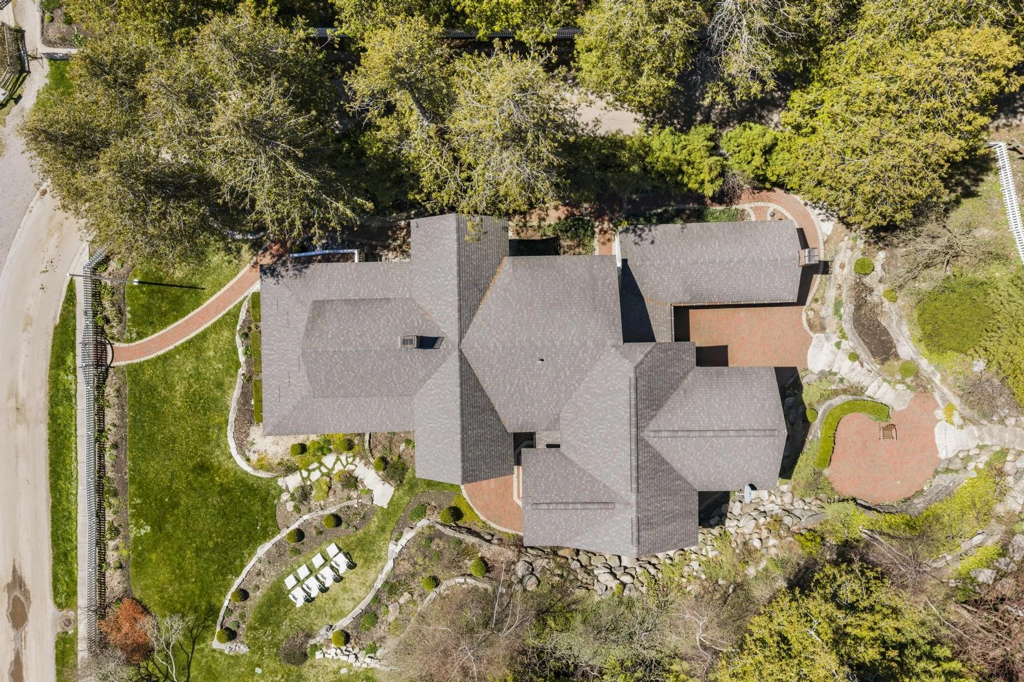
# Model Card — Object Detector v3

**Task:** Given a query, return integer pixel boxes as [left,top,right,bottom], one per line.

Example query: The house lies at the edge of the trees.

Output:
[259,214,819,557]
